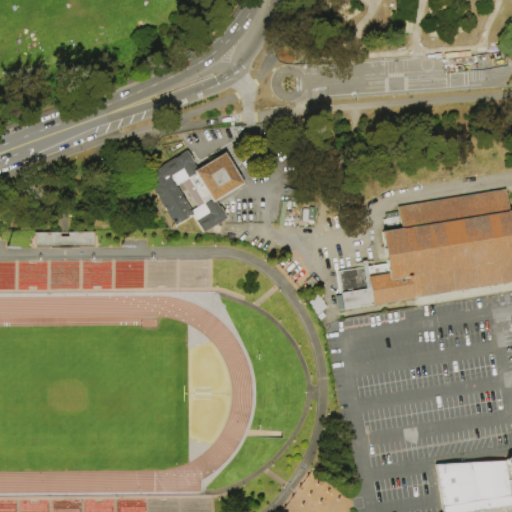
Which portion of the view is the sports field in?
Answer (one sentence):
The sports field sits in the bottom left section of the image.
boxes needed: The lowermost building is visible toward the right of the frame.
[436,457,512,512]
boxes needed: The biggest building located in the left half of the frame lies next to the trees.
[157,150,226,230]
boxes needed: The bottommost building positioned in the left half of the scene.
[36,232,96,247]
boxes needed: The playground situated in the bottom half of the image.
[284,468,356,512]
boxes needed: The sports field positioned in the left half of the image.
[0,316,231,470]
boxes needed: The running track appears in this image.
[0,292,254,495]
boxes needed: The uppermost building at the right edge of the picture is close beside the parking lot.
[372,188,512,306]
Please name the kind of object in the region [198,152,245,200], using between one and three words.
building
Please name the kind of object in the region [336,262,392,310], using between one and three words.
building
